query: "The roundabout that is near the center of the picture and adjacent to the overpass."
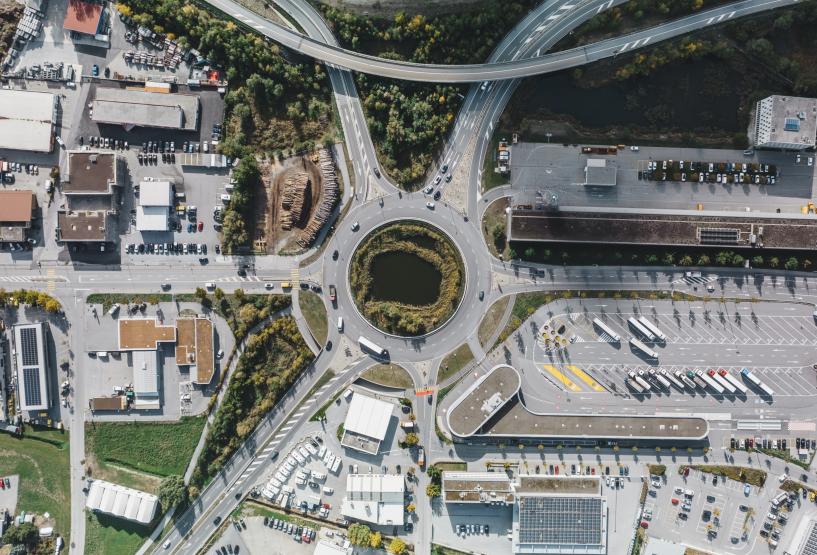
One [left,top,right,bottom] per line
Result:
[299,91,536,388]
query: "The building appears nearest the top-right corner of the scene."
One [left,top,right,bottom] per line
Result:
[756,96,817,148]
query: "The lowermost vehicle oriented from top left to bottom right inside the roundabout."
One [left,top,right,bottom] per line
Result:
[358,335,391,359]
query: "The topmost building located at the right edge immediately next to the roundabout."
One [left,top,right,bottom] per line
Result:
[509,210,817,250]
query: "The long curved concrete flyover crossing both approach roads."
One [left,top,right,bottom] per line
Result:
[204,0,804,84]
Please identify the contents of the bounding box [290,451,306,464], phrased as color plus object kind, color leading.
white vehicle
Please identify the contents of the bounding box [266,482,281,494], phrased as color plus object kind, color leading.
white vehicle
